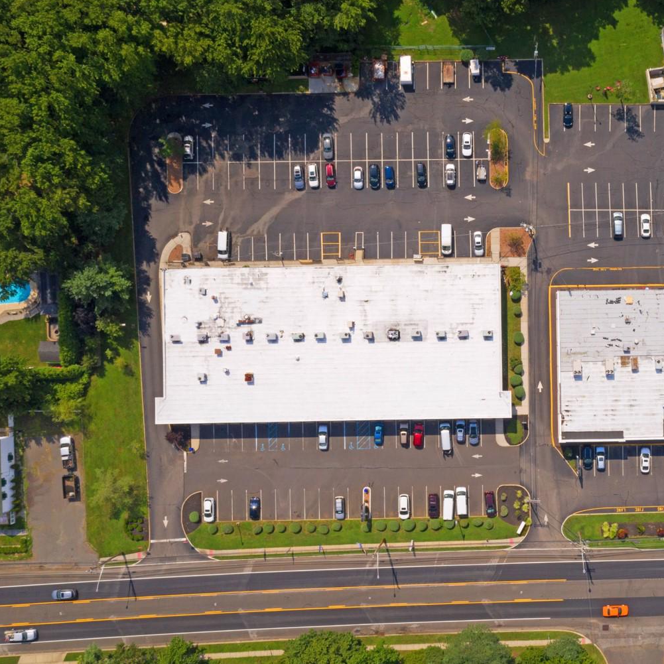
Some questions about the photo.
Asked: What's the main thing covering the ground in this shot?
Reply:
paved ground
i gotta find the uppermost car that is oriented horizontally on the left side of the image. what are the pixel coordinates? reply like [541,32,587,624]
[52,587,80,601]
